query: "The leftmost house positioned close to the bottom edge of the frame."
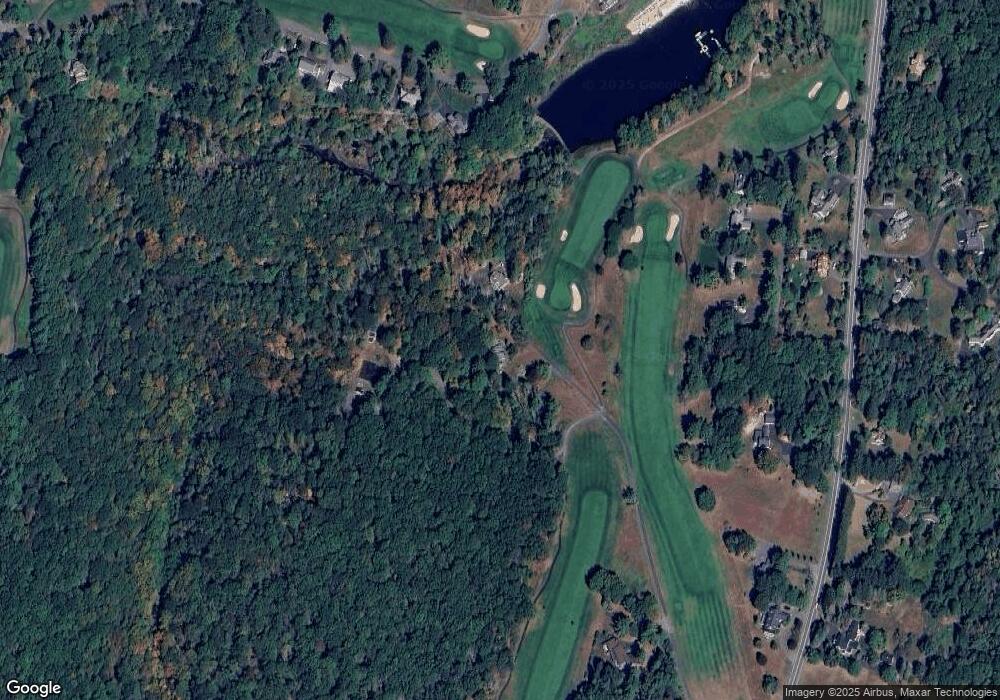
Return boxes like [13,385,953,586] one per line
[603,634,646,667]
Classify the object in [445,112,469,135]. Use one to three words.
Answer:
house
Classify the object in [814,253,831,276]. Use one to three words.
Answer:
house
